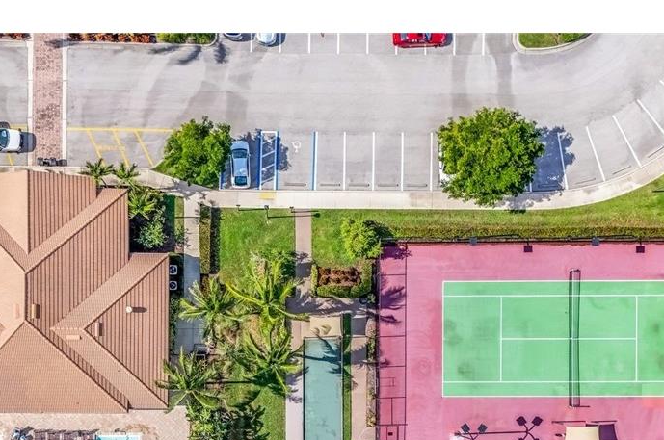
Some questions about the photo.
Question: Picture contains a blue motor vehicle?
Yes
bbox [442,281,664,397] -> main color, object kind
green tennis court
